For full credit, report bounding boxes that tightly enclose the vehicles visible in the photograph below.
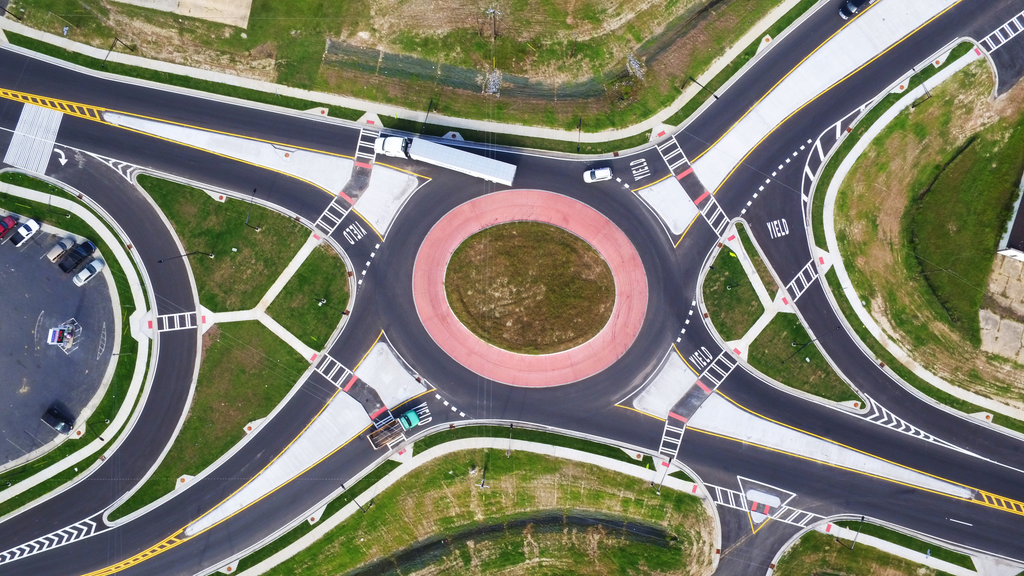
[582,168,613,184]
[362,408,424,449]
[74,259,104,286]
[9,216,44,248]
[40,407,73,433]
[59,240,98,274]
[0,216,19,243]
[380,128,516,185]
[45,237,77,264]
[838,0,869,20]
